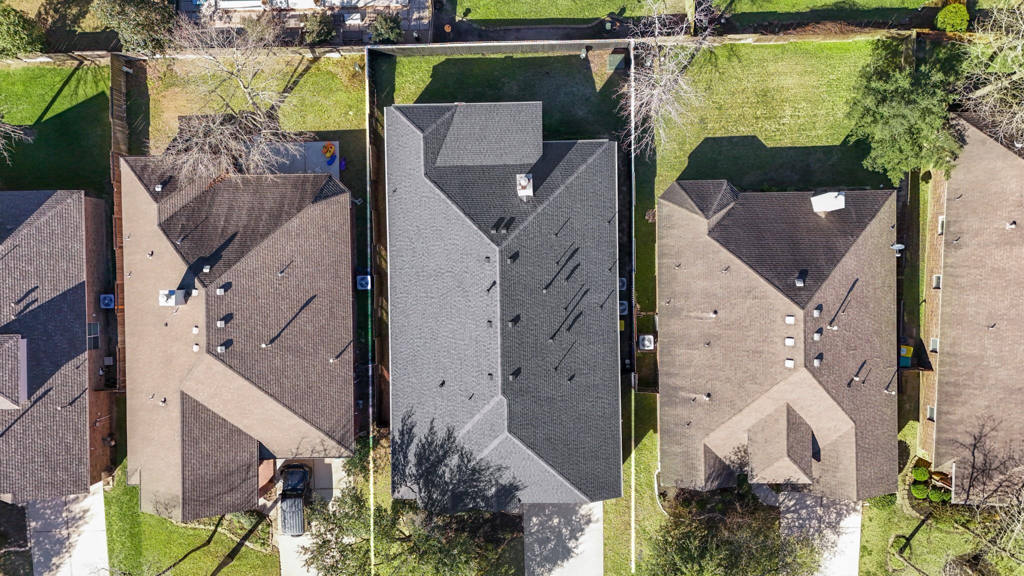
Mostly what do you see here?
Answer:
buildings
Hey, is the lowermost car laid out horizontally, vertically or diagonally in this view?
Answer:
vertically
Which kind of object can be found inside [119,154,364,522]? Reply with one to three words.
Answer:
house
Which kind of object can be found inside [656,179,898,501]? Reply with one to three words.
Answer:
house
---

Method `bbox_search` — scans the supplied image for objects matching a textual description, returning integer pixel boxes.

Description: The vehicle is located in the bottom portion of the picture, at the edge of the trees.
[278,463,315,537]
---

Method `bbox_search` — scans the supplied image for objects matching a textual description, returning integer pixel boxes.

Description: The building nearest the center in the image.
[382,100,625,515]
